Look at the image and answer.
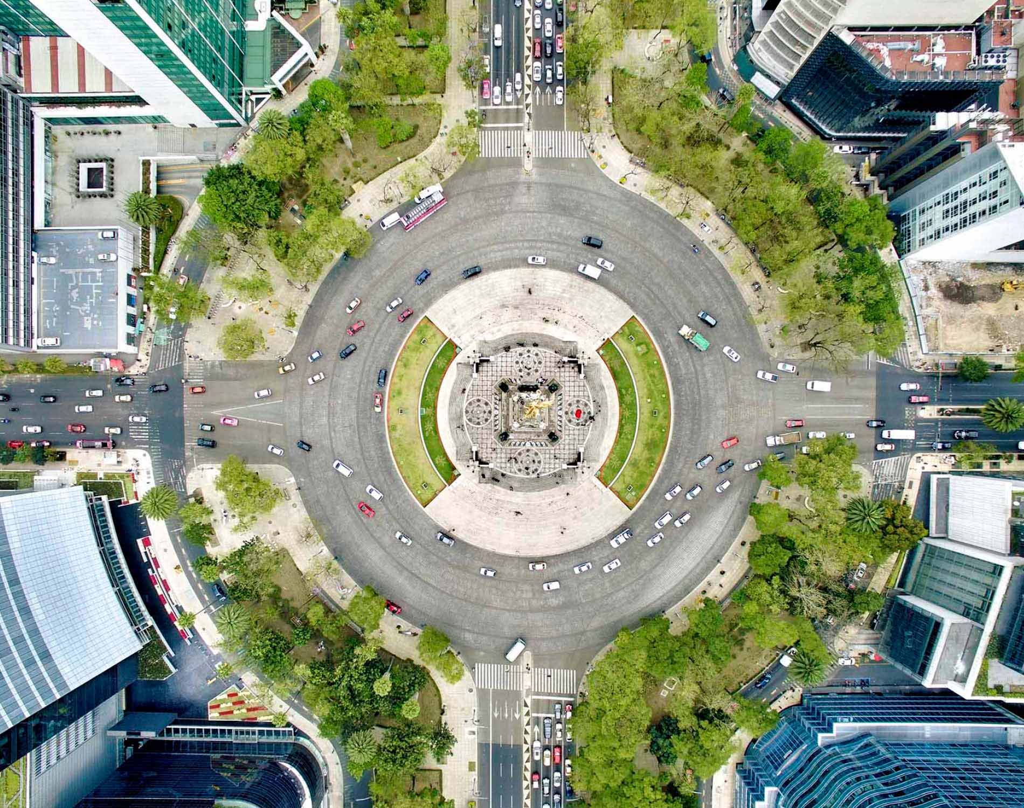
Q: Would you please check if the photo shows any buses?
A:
Yes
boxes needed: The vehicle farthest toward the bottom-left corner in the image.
[209,581,224,600]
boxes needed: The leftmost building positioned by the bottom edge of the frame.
[0,486,154,808]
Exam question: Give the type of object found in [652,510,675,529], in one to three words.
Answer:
vehicle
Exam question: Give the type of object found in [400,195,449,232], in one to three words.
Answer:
bus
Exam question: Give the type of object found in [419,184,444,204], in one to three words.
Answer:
vehicle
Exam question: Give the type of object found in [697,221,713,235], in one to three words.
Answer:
car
